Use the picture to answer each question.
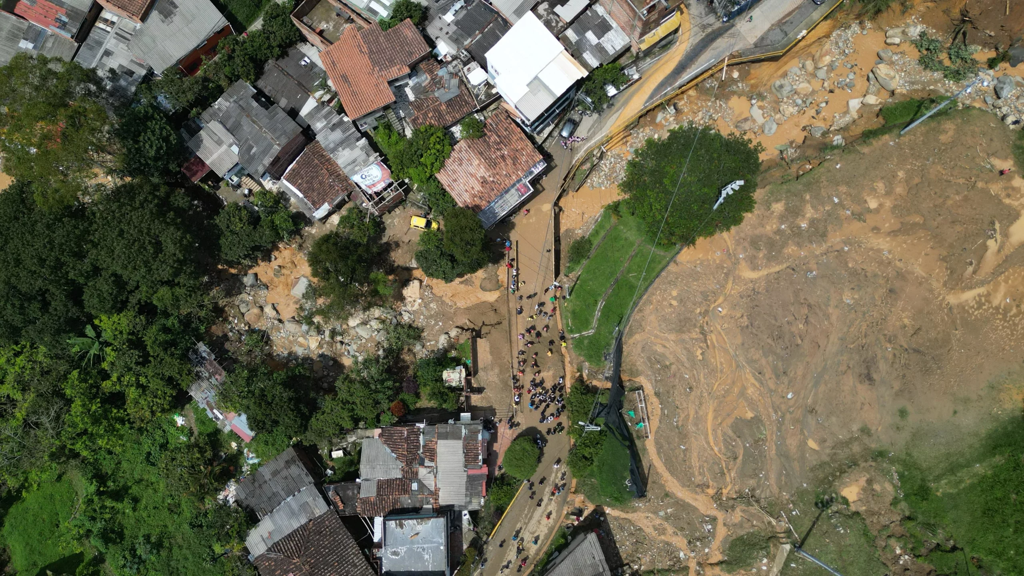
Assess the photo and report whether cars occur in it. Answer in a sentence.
Yes, the image includes a car.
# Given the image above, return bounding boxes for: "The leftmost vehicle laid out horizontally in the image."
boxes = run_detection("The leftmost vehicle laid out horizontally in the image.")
[408,214,439,229]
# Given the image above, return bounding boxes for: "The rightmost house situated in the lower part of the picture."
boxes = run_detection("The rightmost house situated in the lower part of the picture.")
[526,529,612,576]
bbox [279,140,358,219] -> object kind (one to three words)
house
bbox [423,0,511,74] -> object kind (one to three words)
house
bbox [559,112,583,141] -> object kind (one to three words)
car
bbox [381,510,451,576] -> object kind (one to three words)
building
